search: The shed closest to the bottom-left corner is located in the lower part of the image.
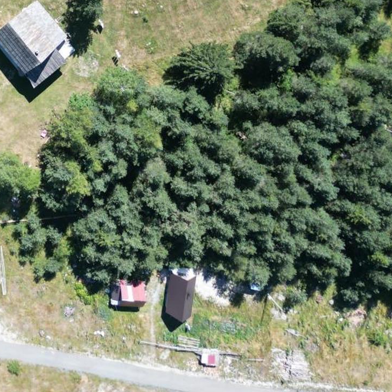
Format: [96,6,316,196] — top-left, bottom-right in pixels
[110,276,146,307]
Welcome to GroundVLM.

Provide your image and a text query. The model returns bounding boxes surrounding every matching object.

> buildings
[164,271,197,323]
[201,347,219,366]
[0,1,74,87]
[110,276,146,307]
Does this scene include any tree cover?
Yes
